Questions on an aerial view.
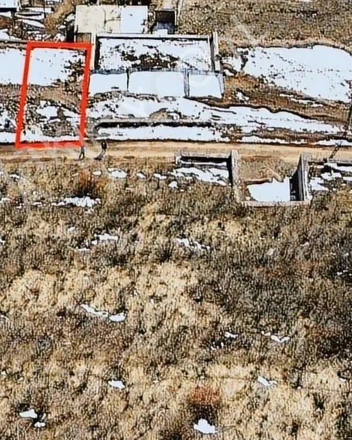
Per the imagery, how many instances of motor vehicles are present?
0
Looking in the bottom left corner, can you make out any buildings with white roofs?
No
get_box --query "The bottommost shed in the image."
[84,72,225,101]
